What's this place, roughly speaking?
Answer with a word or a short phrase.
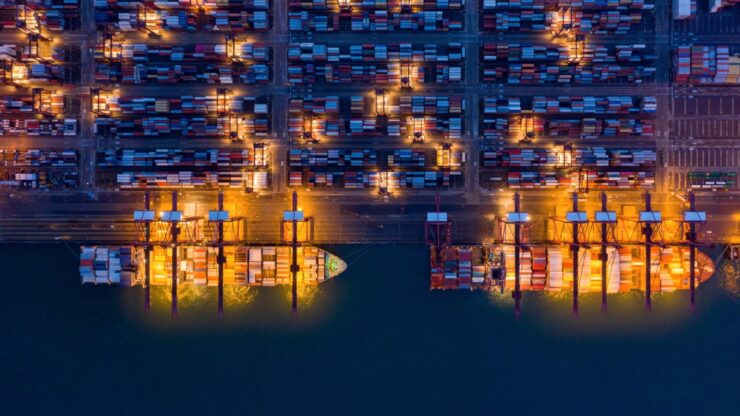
port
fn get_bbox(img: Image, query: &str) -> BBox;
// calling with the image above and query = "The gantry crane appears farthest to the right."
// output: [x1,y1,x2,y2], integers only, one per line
[651,190,713,318]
